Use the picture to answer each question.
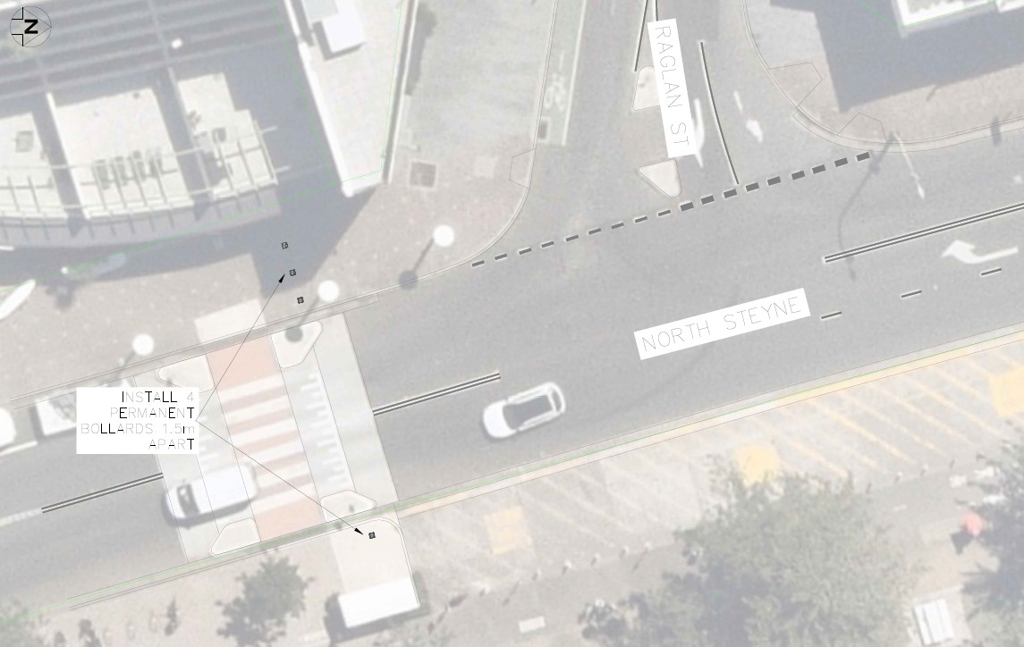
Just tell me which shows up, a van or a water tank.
van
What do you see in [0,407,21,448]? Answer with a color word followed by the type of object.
white vehicle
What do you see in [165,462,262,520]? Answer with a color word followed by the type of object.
white van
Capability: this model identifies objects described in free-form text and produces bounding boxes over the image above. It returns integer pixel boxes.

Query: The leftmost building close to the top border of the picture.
[0,0,291,247]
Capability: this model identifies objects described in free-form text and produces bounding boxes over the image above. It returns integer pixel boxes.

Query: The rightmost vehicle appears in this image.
[482,383,567,439]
